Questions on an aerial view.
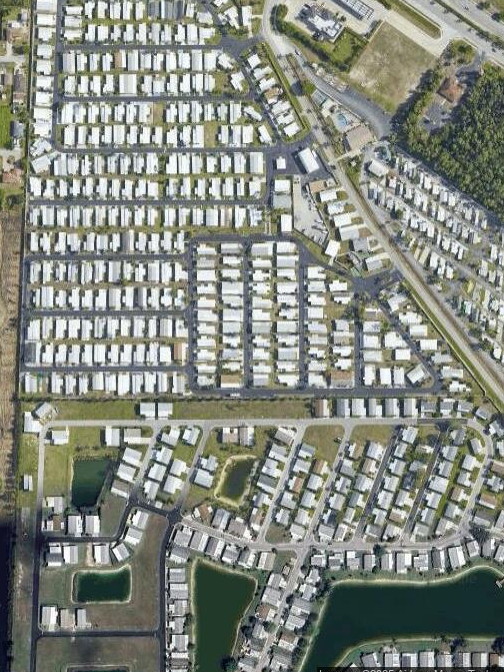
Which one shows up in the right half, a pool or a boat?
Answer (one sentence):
Looking in the right half, you will find a pool.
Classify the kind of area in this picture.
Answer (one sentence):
The picture captures a residential area.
